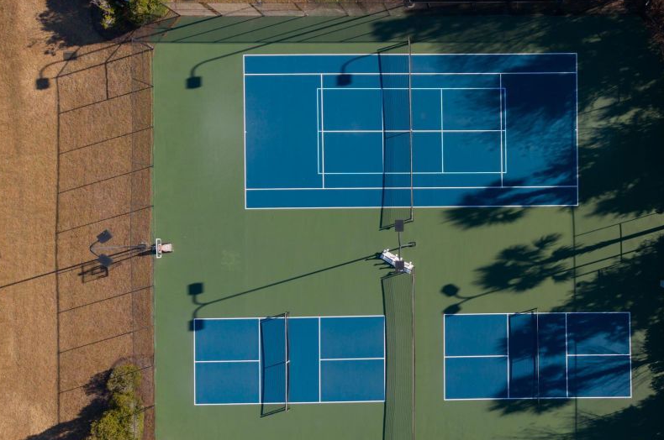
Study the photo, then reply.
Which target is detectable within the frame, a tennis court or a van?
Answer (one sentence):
Looking from above, you can make out a tennis court.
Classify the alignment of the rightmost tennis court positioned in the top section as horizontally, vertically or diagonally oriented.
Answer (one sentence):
The rightmost tennis court positioned in the top section has been laid out horizontally relative to the frame.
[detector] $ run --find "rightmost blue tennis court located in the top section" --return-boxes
[244,51,579,209]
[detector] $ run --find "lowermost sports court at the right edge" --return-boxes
[443,312,632,401]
